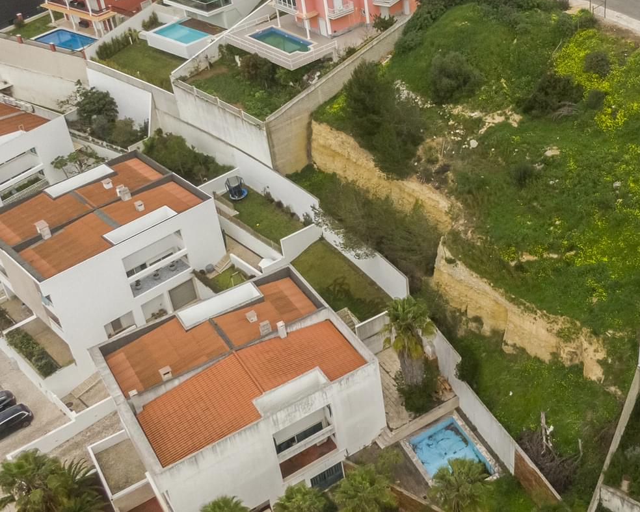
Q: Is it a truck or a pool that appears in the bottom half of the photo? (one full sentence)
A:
What appears in the bottom half of the photo is a pool.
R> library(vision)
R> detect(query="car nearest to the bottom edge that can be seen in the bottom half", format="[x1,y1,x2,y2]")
[0,398,41,435]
